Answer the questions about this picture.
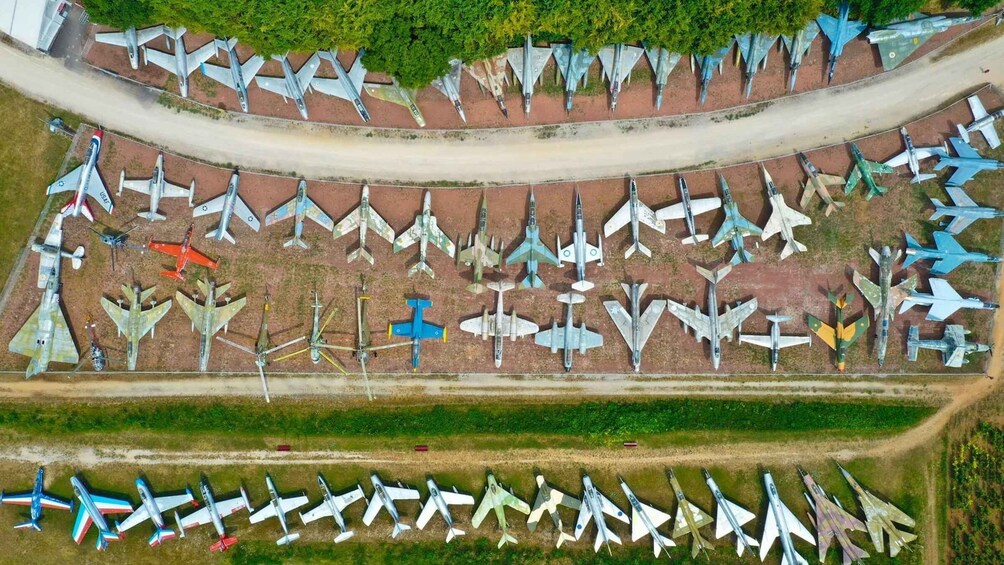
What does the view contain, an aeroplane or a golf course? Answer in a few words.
aeroplane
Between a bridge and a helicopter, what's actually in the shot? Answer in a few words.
helicopter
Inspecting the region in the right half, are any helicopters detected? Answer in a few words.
No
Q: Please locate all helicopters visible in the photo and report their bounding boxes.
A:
[274,289,345,374]
[89,226,147,270]
[318,282,413,399]
[71,319,126,374]
[217,292,305,401]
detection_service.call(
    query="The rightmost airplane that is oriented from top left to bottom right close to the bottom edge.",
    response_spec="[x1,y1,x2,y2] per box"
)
[837,464,919,556]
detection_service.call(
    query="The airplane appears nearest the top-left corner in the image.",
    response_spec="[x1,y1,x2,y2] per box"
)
[97,15,165,70]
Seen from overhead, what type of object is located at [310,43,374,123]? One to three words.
airplane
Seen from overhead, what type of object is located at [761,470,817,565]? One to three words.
airplane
